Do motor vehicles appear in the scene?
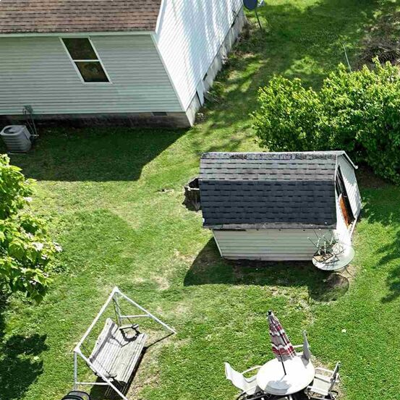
No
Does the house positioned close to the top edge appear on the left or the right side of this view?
left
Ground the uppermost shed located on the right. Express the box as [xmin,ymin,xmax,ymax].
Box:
[198,154,360,259]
